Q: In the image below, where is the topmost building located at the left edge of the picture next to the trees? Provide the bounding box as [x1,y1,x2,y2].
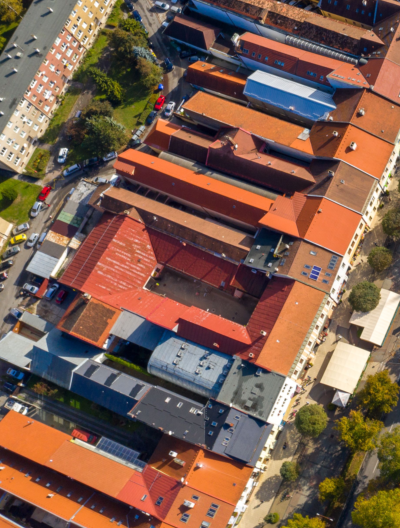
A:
[0,0,118,174]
